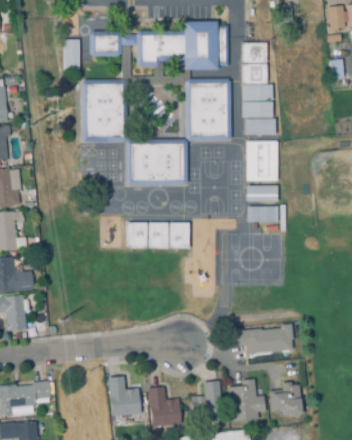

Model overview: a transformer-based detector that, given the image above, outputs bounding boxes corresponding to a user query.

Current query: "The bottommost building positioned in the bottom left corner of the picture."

[0,420,38,440]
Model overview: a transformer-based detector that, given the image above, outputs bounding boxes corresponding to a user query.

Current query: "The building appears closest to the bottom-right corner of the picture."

[270,382,304,413]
